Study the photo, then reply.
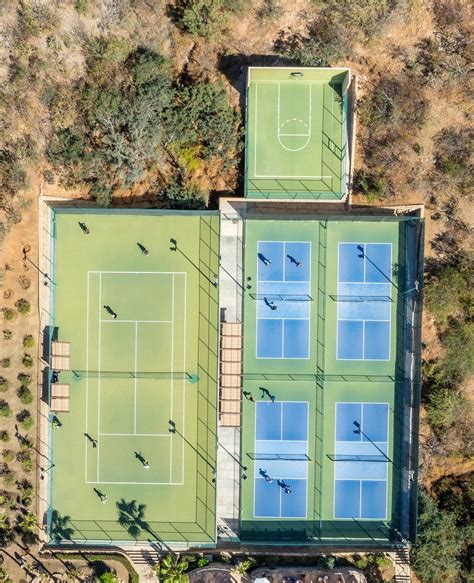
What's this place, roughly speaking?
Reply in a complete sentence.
The picture captures a sports ground.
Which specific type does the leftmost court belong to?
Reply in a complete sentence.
The leftmost court can be classified as a tennis court.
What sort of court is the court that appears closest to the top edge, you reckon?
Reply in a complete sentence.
The court that appears closest to the top edge can be classified as a basketball court.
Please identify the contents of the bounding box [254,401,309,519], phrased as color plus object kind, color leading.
blue sports court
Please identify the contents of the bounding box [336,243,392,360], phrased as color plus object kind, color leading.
blue sports court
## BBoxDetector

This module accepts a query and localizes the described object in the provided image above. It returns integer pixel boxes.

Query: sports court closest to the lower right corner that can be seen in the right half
[334,402,390,520]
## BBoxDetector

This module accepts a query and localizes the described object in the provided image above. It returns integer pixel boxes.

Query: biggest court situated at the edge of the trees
[52,212,220,543]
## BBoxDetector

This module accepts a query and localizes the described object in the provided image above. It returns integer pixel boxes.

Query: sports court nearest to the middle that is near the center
[255,241,311,359]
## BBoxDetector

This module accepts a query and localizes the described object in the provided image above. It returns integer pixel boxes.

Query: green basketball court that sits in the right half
[244,80,343,199]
